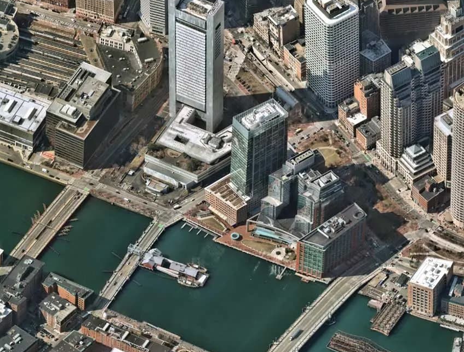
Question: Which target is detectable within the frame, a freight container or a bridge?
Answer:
bridge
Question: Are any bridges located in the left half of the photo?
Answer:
Yes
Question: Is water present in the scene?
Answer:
Yes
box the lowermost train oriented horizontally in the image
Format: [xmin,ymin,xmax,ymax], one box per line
[0,71,43,84]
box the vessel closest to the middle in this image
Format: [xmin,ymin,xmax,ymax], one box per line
[188,258,207,272]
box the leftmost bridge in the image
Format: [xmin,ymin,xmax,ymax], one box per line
[5,184,90,264]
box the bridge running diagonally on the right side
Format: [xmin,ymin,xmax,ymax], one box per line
[264,261,386,352]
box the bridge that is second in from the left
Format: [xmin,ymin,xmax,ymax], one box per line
[103,219,165,304]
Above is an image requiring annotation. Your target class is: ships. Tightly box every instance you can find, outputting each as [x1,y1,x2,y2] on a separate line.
[179,274,200,289]
[451,337,461,352]
[188,258,207,272]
